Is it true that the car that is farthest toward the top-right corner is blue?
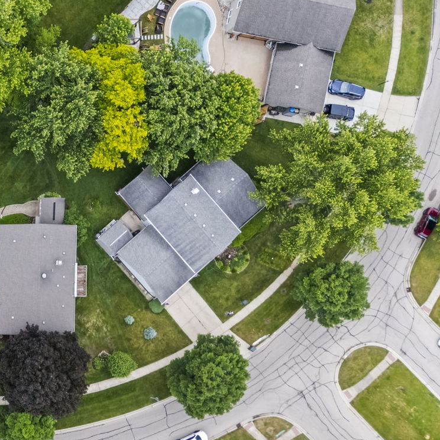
Yes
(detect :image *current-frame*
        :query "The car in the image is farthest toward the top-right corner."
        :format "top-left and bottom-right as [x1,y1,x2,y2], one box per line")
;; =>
[328,79,367,101]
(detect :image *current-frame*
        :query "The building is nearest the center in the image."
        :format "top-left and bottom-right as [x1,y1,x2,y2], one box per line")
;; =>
[113,150,265,305]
